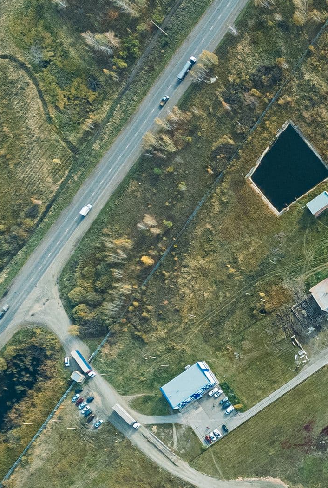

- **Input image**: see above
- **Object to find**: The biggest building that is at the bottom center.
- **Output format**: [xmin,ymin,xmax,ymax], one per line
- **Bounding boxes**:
[160,362,219,409]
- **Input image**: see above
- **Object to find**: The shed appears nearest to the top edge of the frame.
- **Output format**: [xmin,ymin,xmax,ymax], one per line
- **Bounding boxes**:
[306,191,328,214]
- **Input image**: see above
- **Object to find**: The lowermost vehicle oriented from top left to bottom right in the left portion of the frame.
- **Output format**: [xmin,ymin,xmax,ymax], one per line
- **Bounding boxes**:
[112,404,145,431]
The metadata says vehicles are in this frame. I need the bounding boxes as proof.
[178,57,199,82]
[72,394,81,402]
[224,406,235,414]
[213,429,221,438]
[112,404,145,431]
[210,431,217,440]
[222,401,232,409]
[70,351,100,379]
[82,406,91,414]
[75,397,84,406]
[65,357,70,367]
[220,397,228,404]
[221,424,228,434]
[160,96,168,107]
[81,204,93,216]
[74,387,84,394]
[84,410,93,418]
[205,436,212,444]
[86,414,95,423]
[78,402,87,410]
[213,389,222,397]
[208,387,219,396]
[86,396,94,404]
